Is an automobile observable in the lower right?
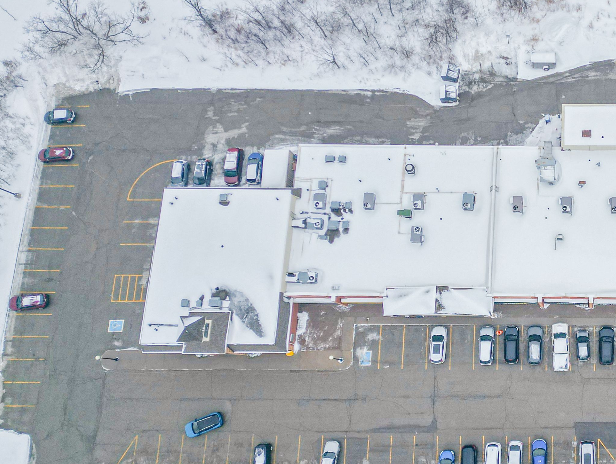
Yes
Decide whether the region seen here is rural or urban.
urban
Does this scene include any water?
No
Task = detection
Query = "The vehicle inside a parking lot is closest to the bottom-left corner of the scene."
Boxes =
[8,292,52,311]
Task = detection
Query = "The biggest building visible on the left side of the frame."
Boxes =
[138,187,307,356]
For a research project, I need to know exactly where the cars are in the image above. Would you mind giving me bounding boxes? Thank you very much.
[169,160,189,187]
[321,441,341,464]
[507,441,523,464]
[8,292,52,311]
[437,450,456,464]
[246,153,263,186]
[598,327,616,365]
[43,109,78,126]
[530,439,549,464]
[462,445,479,464]
[185,411,226,438]
[255,442,275,464]
[484,442,501,464]
[503,327,521,364]
[191,159,213,187]
[575,330,592,362]
[476,327,496,365]
[39,146,77,163]
[429,327,447,364]
[221,147,244,187]
[525,327,545,365]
